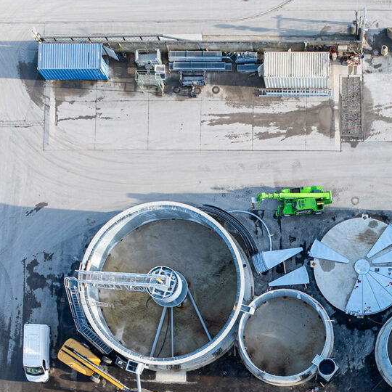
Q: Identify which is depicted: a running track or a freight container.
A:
freight container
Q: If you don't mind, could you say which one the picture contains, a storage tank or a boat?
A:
storage tank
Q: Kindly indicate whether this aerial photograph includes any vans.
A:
Yes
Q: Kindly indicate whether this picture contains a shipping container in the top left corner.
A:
Yes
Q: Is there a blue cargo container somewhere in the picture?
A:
Yes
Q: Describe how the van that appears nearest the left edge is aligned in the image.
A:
from top to bottom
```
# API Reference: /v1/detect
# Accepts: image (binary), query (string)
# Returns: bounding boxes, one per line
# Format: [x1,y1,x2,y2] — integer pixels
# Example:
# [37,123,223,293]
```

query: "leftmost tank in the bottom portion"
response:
[59,200,252,392]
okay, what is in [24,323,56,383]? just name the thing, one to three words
van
